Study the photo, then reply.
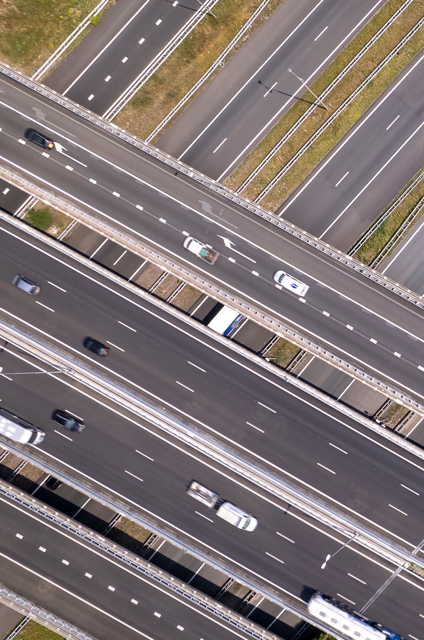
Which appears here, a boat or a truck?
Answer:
truck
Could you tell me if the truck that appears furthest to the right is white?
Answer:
Yes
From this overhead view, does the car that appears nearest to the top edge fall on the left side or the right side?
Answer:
left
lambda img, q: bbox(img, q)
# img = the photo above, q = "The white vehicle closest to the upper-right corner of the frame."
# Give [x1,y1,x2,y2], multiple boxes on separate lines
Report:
[277,271,313,298]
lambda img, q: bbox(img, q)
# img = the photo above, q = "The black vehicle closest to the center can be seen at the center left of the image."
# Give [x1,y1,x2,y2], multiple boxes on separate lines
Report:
[85,336,112,358]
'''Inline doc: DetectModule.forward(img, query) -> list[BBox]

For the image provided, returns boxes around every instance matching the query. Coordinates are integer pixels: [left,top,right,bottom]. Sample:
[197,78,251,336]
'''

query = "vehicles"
[207,307,244,338]
[47,479,65,493]
[186,239,224,267]
[14,274,42,296]
[277,271,313,298]
[219,500,260,529]
[311,591,408,640]
[0,406,55,446]
[25,128,57,152]
[85,336,112,358]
